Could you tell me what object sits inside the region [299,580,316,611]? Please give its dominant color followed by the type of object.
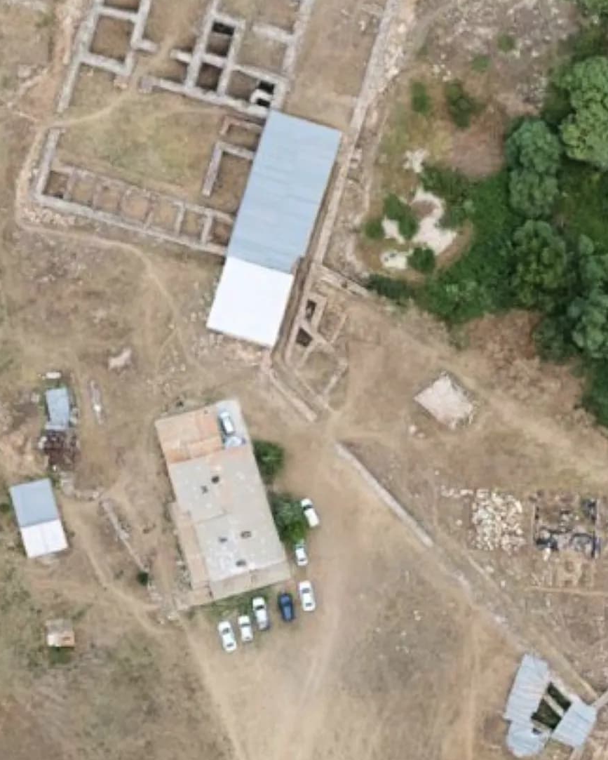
white car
